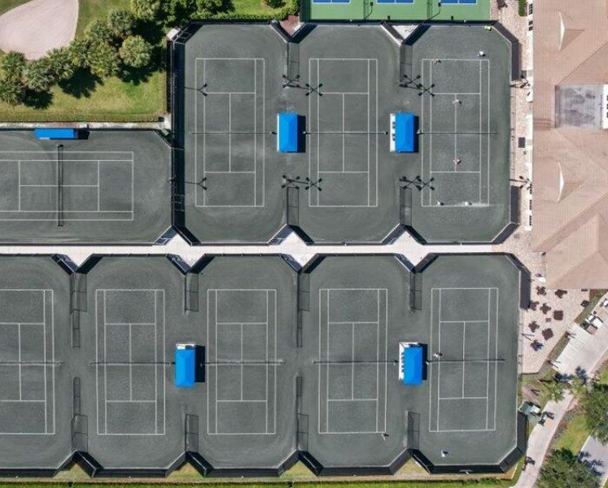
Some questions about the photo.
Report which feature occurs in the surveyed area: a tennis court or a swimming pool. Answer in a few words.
tennis court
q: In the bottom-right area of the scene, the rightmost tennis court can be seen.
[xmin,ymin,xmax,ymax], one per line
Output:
[409,256,520,464]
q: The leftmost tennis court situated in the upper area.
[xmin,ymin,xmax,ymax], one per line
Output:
[0,130,172,243]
